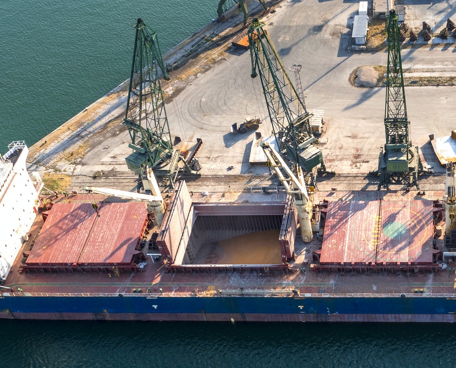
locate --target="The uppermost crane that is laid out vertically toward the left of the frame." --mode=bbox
[122,12,197,193]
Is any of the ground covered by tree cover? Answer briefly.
No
